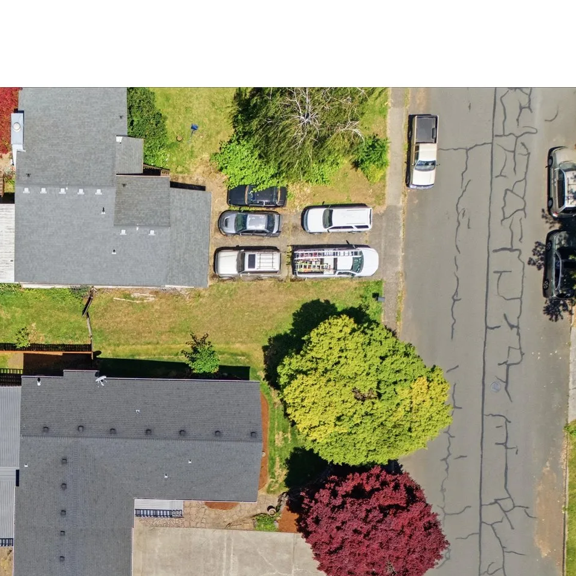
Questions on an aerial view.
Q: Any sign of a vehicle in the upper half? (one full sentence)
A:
Yes, a vehicle is visible in the upper half.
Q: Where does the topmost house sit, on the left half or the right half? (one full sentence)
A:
The topmost house appears in the left half of the scene.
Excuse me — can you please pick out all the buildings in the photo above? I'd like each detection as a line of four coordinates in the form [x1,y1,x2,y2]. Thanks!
[12,370,262,576]
[10,84,212,290]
